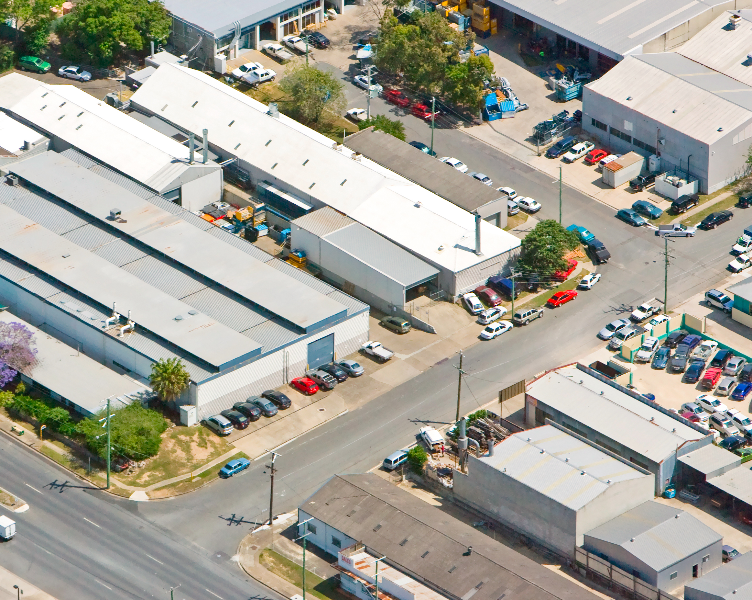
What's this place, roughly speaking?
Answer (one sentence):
What you see here is an industrial area.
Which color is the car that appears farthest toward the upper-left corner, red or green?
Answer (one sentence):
The car that appears farthest toward the upper-left corner is green.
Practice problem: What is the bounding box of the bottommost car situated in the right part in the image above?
[720,541,744,560]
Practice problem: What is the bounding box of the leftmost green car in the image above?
[20,53,48,74]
